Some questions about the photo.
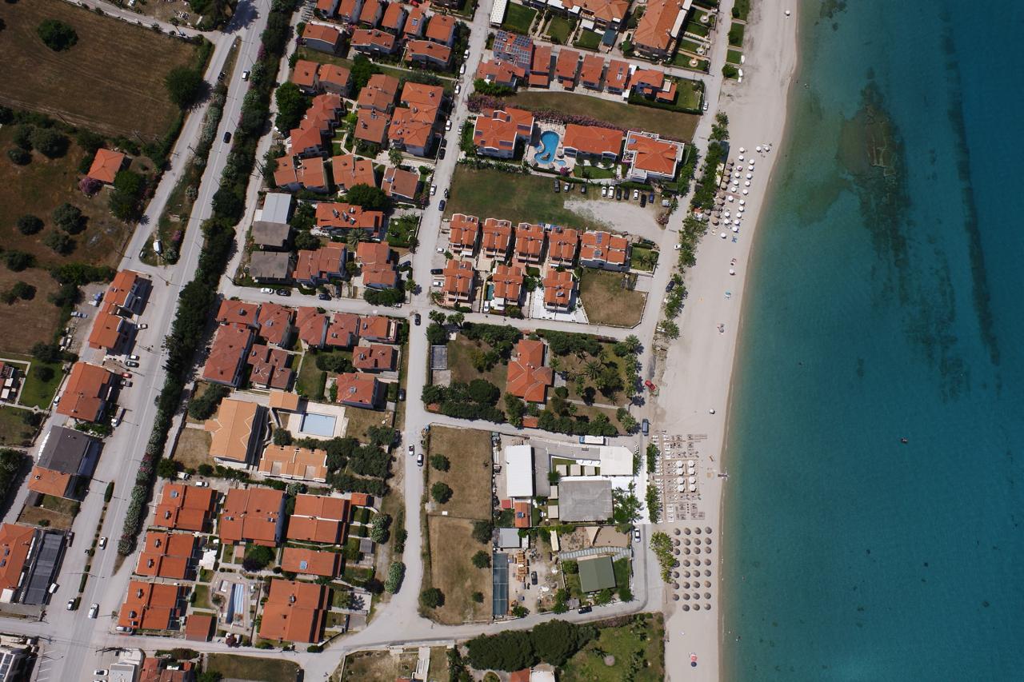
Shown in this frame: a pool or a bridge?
pool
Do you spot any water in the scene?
Yes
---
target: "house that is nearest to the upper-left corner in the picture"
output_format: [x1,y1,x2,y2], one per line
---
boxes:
[88,149,131,186]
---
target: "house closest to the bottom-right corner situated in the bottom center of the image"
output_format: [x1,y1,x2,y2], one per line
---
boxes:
[578,557,615,593]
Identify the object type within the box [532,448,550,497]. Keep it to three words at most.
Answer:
shed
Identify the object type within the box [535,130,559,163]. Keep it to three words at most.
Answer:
swimming pool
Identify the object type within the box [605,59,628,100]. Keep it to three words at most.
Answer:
house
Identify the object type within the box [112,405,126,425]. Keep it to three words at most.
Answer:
vehicle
